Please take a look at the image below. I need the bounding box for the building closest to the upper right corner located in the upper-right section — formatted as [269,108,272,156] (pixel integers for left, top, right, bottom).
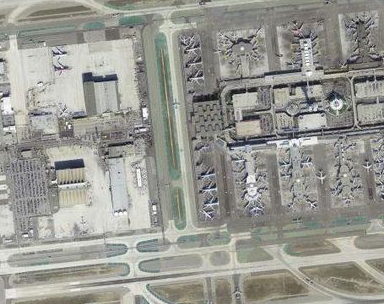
[325,22,383,75]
